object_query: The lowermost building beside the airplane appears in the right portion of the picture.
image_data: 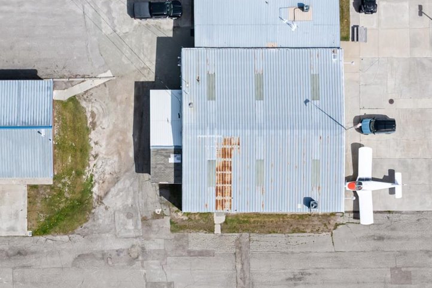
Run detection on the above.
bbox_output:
[178,48,357,222]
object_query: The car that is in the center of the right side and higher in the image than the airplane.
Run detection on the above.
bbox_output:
[358,115,397,136]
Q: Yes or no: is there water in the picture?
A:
No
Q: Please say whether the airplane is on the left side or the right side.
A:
right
